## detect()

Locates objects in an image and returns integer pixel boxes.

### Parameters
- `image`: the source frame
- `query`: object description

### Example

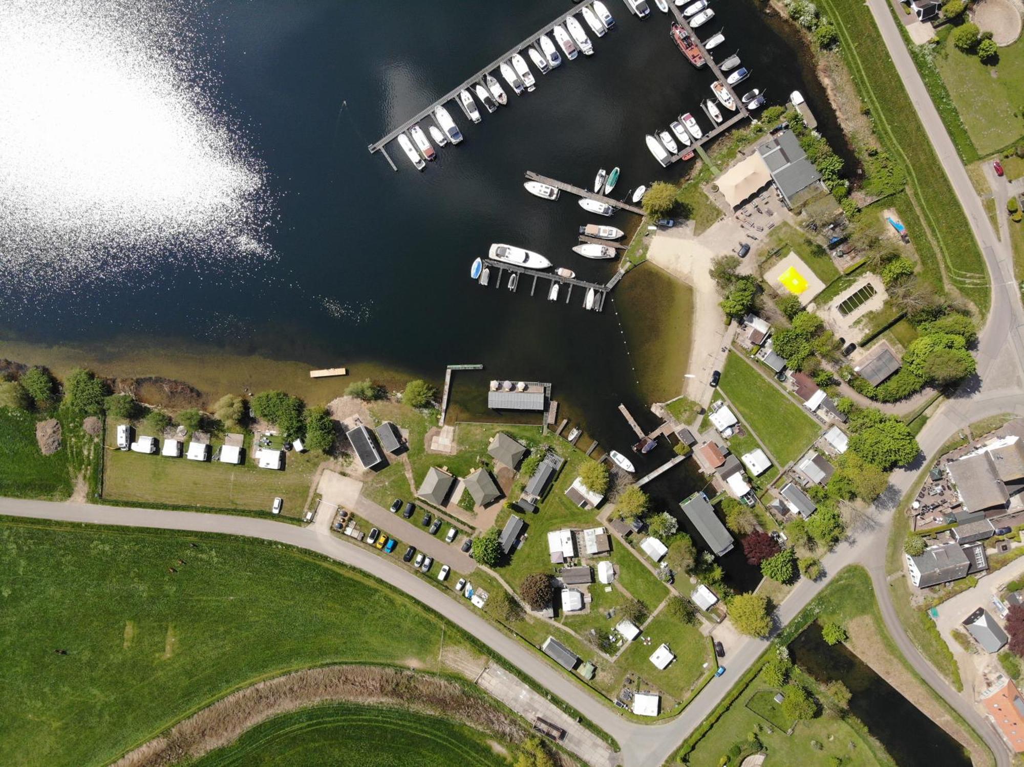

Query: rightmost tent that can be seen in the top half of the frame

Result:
[714,152,772,210]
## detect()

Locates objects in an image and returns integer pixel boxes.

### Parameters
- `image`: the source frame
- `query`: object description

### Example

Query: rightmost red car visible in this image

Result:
[991,160,1004,176]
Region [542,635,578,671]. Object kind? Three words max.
house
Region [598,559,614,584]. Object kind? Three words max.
tent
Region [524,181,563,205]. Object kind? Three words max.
boat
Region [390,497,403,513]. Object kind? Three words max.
vehicle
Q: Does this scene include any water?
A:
Yes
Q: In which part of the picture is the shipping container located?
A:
bottom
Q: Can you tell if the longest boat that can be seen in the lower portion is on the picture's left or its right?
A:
right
